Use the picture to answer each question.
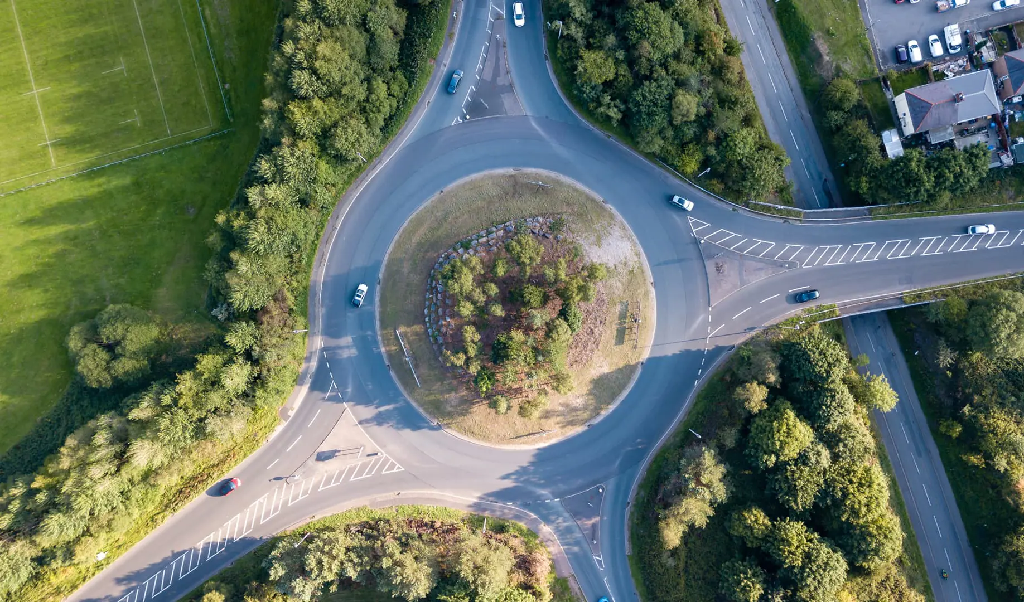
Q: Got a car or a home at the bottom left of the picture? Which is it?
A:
car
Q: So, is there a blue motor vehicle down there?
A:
Yes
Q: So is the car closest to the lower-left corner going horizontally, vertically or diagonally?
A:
diagonally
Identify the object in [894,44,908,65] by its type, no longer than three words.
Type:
car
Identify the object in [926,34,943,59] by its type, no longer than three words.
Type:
car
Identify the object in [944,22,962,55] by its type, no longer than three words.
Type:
vehicle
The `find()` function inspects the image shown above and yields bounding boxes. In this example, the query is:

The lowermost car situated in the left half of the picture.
[218,475,241,497]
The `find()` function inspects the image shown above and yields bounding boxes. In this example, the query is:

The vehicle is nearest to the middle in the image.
[351,283,369,308]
